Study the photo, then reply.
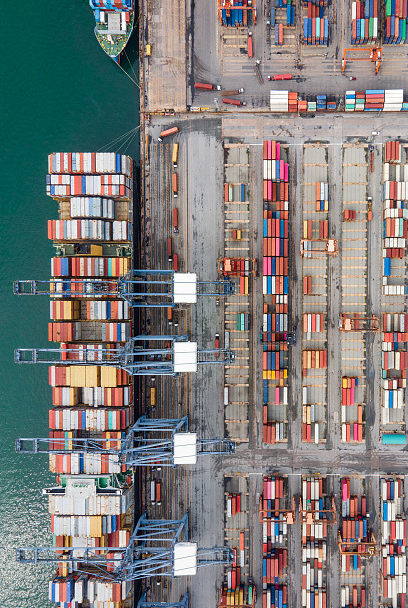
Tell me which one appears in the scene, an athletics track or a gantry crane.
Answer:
gantry crane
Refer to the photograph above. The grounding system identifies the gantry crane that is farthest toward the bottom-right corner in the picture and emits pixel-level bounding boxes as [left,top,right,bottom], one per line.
[336,528,380,556]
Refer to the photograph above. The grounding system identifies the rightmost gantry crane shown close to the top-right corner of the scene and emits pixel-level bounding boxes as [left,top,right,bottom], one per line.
[339,47,383,77]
